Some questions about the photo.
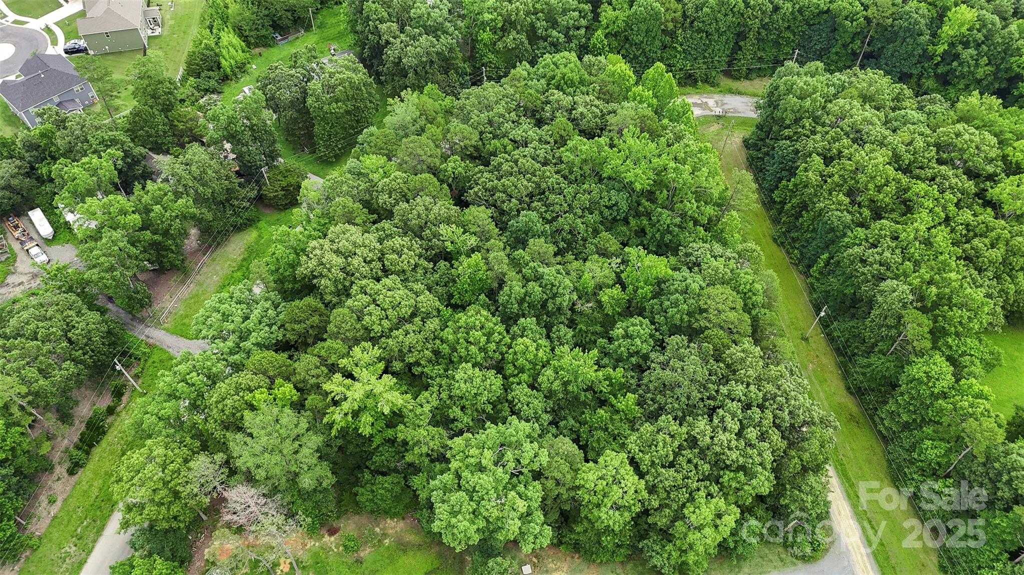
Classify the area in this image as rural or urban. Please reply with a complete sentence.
The land in this view is best described as rural.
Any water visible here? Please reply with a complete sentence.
No, no water is visible.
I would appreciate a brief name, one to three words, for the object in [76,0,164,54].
house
